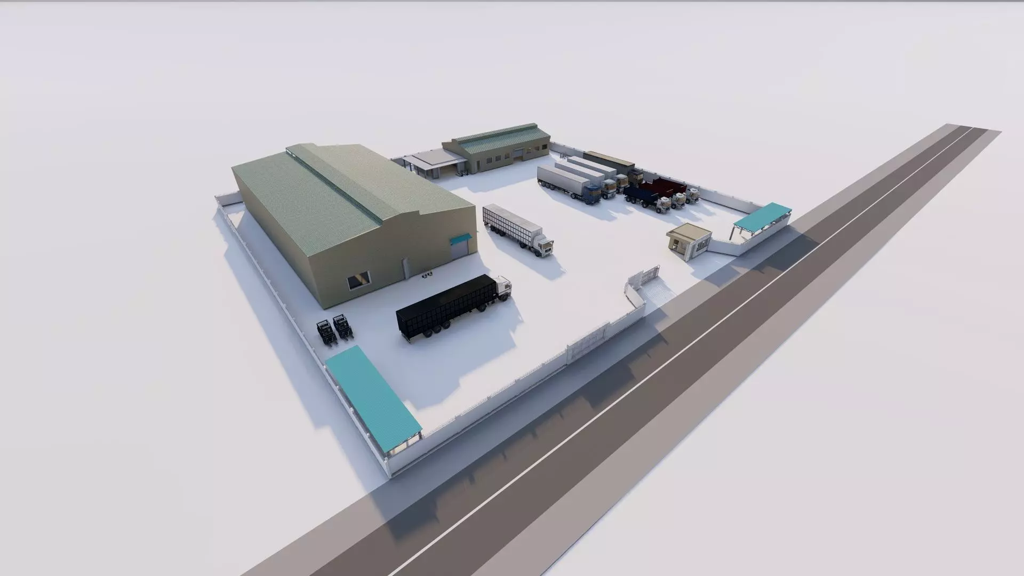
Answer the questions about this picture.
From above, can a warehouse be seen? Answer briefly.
Yes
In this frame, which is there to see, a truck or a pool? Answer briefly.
truck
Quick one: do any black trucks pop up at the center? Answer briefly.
Yes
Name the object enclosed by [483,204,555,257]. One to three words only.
truck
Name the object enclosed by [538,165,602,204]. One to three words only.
truck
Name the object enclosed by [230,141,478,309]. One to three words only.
warehouse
